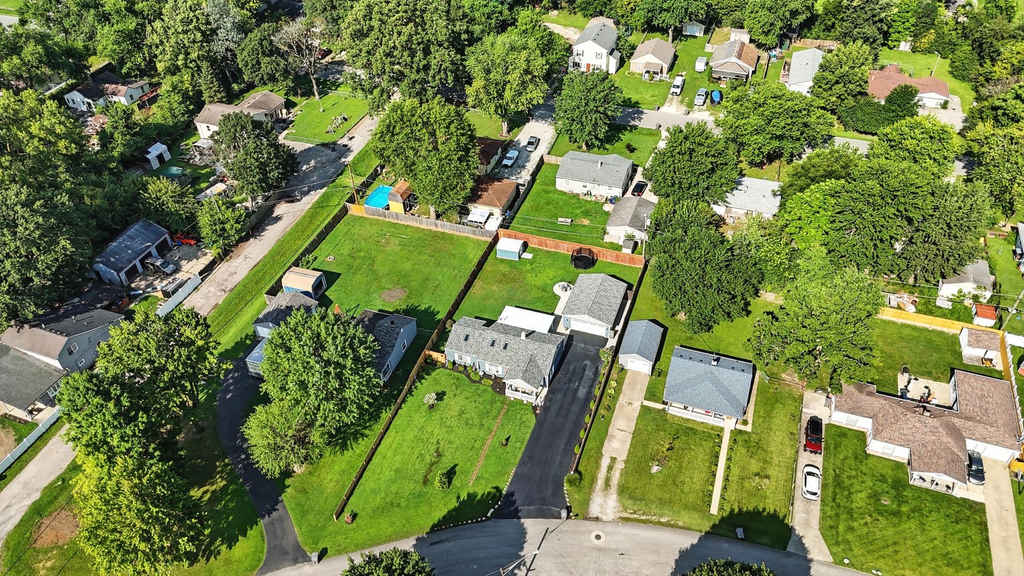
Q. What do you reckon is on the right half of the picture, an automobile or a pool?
automobile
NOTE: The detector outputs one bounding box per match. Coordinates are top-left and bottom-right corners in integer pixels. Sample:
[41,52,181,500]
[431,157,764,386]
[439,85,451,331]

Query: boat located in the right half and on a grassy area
[709,89,722,107]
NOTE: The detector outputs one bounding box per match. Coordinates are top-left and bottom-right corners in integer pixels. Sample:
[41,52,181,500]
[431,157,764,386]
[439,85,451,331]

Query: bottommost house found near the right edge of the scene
[832,371,1022,500]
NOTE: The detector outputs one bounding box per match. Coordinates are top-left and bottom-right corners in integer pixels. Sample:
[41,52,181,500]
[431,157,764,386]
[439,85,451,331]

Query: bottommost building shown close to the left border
[0,346,74,421]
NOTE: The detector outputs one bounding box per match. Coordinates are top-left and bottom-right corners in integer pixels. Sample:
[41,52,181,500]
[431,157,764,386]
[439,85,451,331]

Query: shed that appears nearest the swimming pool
[388,184,413,213]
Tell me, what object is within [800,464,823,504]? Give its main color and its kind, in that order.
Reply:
white car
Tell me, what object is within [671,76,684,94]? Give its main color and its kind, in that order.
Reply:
white vehicle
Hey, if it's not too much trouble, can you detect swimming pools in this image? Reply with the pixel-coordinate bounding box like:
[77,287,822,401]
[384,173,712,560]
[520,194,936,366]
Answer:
[367,186,396,211]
